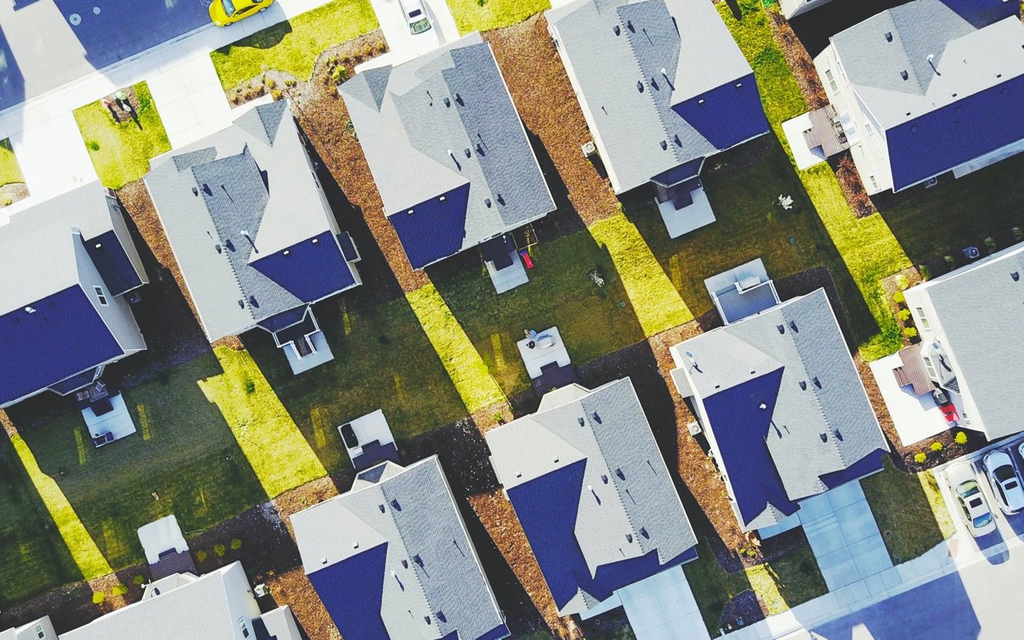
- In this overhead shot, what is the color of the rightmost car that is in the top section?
white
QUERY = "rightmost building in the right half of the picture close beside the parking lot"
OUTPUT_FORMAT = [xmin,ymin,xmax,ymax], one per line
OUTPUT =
[903,243,1024,442]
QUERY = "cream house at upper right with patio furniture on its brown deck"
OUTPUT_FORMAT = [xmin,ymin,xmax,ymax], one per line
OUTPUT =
[814,0,1024,195]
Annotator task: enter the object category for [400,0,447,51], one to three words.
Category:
car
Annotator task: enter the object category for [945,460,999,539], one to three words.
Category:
car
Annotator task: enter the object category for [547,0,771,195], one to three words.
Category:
house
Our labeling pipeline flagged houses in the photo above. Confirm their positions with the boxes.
[903,243,1024,442]
[483,375,699,616]
[291,448,514,640]
[338,30,556,271]
[780,0,833,18]
[57,561,308,640]
[0,176,148,410]
[667,285,891,529]
[142,100,361,344]
[814,0,1024,195]
[0,615,57,640]
[547,0,771,195]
